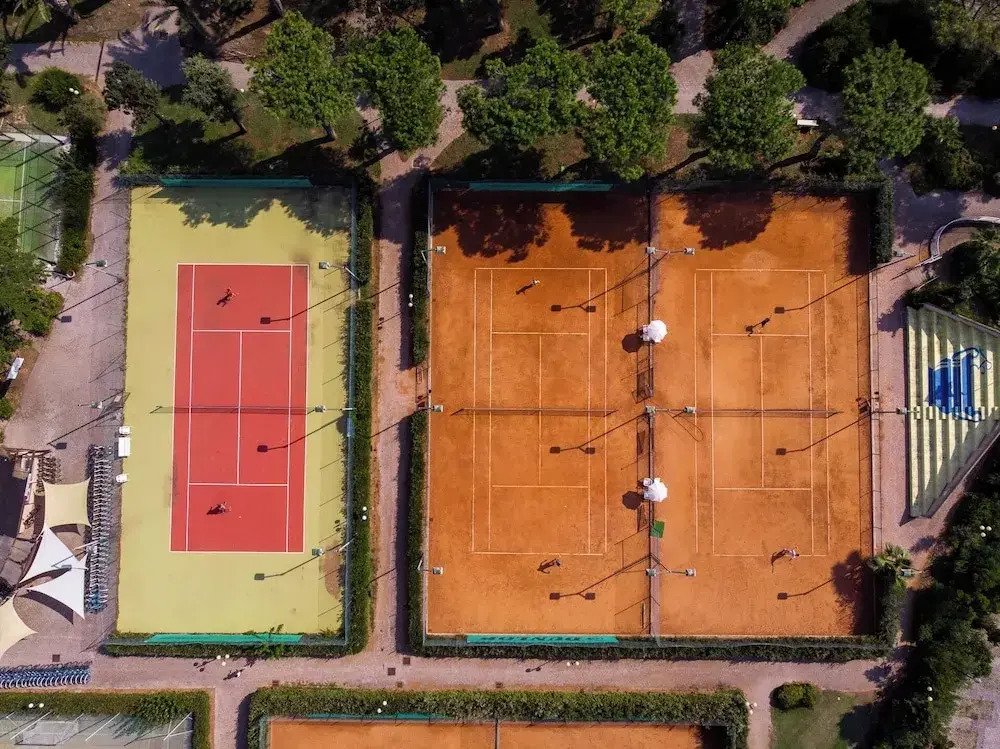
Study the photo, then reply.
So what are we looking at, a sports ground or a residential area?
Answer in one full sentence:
This image shows a sports ground.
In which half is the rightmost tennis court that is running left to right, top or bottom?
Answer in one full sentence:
Seen from above, the rightmost tennis court that is running left to right lies in the bottom half of the view.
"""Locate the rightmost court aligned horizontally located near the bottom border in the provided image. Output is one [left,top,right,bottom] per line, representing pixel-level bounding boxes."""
[497,720,723,749]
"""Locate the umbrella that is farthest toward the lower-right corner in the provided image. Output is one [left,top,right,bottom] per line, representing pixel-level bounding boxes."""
[645,477,671,503]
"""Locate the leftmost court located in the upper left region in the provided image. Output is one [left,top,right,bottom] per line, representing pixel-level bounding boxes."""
[0,126,67,258]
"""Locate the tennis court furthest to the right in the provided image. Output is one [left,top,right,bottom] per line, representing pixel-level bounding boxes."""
[650,188,875,637]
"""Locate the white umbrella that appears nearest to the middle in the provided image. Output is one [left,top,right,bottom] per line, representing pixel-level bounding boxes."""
[645,319,671,345]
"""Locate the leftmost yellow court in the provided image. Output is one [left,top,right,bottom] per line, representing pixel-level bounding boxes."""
[118,185,354,635]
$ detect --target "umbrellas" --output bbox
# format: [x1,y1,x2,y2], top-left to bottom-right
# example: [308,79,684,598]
[645,477,671,503]
[645,319,671,345]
